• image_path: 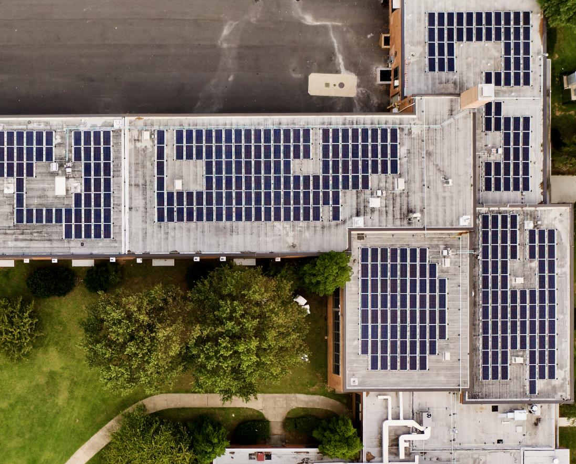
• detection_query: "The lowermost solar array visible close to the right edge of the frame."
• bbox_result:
[478,214,559,395]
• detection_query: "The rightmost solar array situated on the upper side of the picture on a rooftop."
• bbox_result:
[481,101,534,192]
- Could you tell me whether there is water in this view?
No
